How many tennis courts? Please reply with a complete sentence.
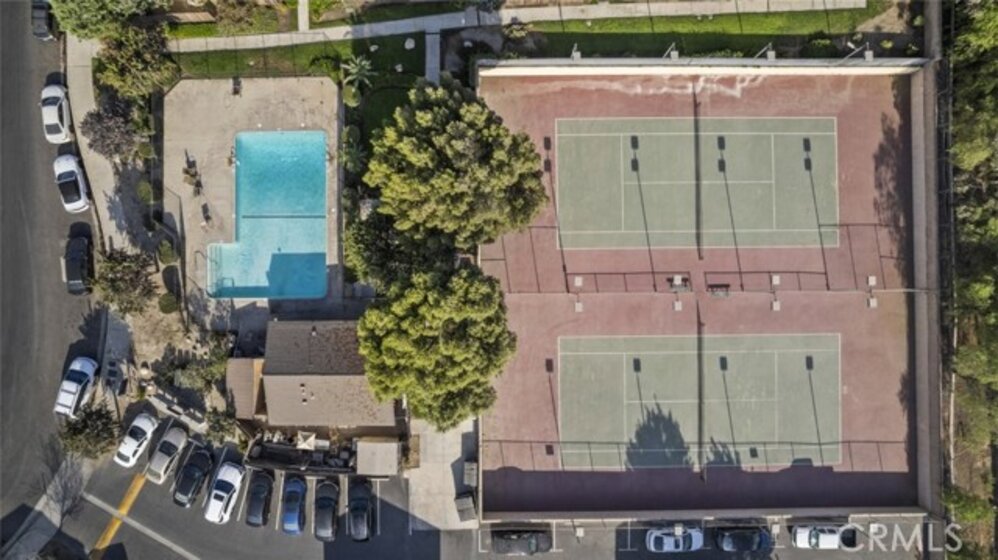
The count of tennis courts comes to 2.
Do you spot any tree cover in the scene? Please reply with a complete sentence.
Yes, there is tree cover in the image.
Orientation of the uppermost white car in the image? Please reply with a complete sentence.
In this picture, the uppermost white car lies up and down.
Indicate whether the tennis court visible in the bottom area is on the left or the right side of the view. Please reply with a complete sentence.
The tennis court visible in the bottom area sits on the right side.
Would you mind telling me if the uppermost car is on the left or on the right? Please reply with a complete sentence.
The uppermost car sits on the left side.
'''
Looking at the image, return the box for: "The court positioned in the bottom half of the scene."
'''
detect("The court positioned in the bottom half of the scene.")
[482,292,917,511]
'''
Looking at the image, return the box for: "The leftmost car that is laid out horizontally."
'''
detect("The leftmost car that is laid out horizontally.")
[489,527,553,557]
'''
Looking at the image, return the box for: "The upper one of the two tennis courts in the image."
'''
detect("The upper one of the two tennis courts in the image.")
[482,75,914,292]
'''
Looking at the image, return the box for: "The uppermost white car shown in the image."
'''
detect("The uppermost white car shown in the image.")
[41,86,73,143]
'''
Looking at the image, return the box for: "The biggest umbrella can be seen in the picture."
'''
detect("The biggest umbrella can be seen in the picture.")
[298,429,318,449]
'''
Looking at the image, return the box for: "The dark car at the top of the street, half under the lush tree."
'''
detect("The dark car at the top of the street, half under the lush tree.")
[27,0,58,42]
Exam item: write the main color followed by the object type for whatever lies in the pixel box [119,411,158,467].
white car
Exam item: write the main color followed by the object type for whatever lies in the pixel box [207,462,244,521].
white car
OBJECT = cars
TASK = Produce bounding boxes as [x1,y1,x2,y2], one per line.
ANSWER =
[644,526,704,554]
[41,86,73,143]
[62,233,95,291]
[489,527,553,557]
[281,473,307,531]
[57,358,97,414]
[119,411,158,467]
[175,445,212,504]
[248,469,275,525]
[346,478,372,538]
[55,155,91,213]
[313,479,340,539]
[207,462,244,521]
[148,426,187,482]
[27,0,58,42]
[714,526,771,554]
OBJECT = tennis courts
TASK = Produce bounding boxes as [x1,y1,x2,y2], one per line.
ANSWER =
[482,292,917,511]
[482,75,914,292]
